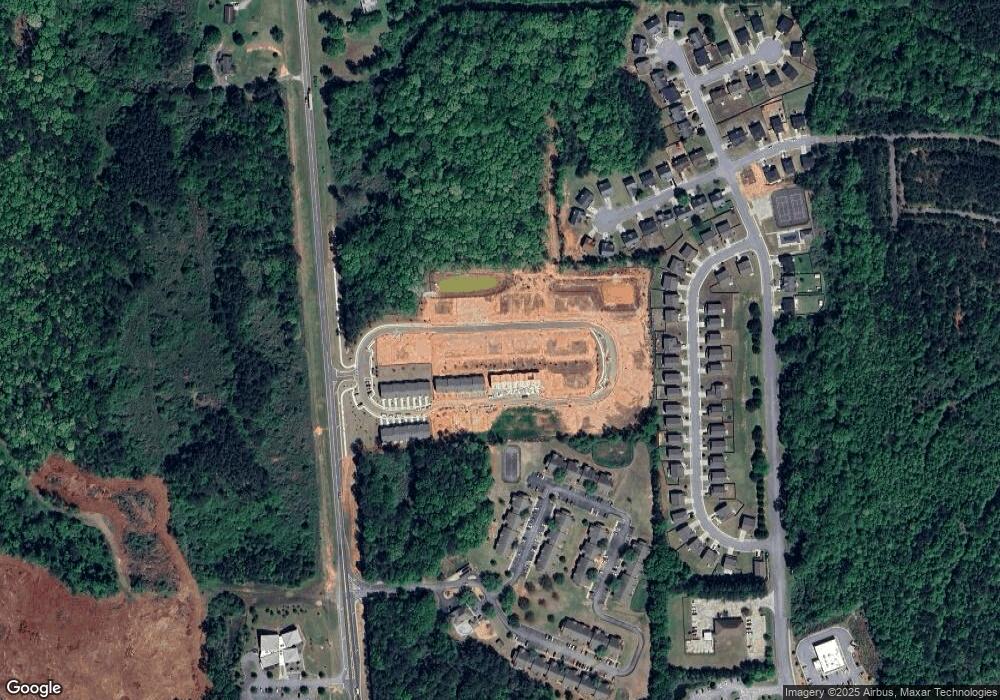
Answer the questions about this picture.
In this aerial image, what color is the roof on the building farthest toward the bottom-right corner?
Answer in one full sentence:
The roof over the building farthest toward the bottom-right corner appears white.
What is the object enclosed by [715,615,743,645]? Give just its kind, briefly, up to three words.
building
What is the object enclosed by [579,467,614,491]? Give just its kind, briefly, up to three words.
building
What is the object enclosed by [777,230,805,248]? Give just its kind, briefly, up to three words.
swimming pool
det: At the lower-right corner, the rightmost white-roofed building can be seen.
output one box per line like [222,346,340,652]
[814,639,846,673]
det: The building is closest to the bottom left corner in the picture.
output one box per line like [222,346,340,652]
[261,630,303,679]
